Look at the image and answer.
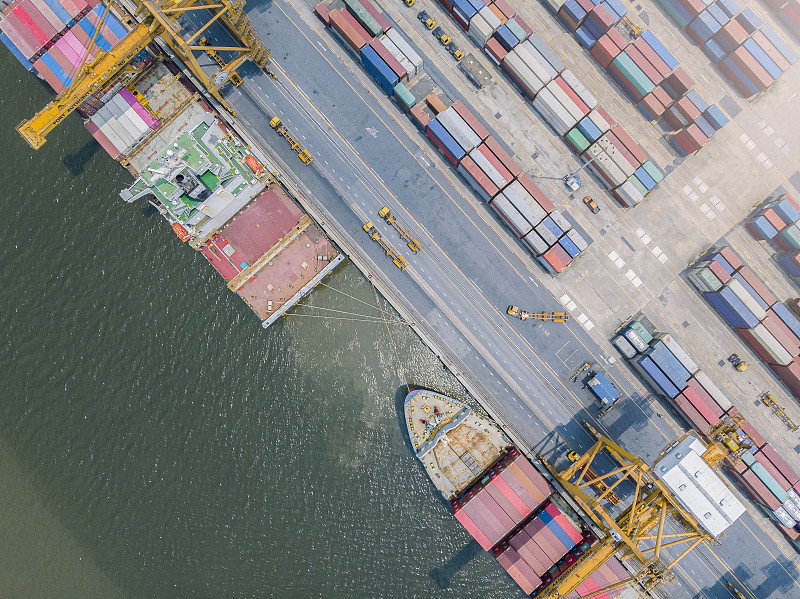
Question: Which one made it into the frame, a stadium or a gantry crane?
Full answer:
Looking from above, you can make out a gantry crane.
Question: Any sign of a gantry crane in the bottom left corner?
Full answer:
No, the scene shows no gantry crane in the bottom left corner.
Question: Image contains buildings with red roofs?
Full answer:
No, the picture doesn't show any building with a red roof.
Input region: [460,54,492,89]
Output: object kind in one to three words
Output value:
shed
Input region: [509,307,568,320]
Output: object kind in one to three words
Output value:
vehicle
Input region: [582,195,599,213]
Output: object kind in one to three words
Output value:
vehicle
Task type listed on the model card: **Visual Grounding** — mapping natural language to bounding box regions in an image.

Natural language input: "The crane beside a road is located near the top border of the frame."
[12,0,288,151]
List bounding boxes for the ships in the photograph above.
[43,0,342,327]
[403,387,589,552]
